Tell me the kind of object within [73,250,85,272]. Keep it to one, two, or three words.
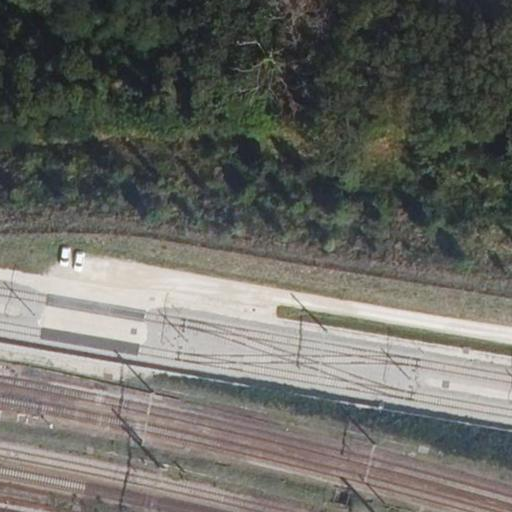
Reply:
vehicle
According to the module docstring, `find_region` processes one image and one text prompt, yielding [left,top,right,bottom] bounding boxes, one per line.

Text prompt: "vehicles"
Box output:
[60,246,71,268]
[73,250,85,272]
